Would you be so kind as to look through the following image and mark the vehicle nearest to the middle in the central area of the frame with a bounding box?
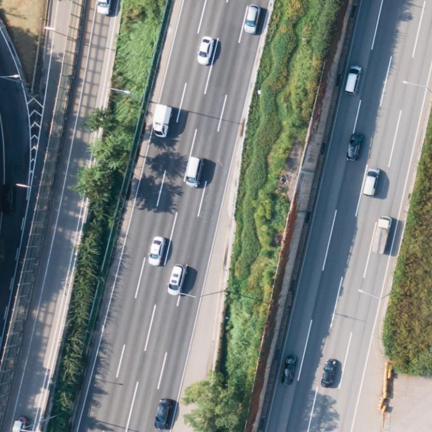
[183,158,201,187]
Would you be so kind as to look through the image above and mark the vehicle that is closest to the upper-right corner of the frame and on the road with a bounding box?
[345,66,360,93]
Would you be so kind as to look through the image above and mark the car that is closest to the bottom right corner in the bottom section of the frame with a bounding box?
[321,359,337,387]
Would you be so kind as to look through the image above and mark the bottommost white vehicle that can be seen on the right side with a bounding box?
[374,217,391,253]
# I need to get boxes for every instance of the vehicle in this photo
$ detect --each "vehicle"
[183,158,201,187]
[363,170,380,197]
[374,217,391,253]
[347,134,362,161]
[169,265,186,293]
[198,36,214,64]
[12,418,27,432]
[321,359,337,387]
[243,3,260,31]
[148,238,165,265]
[149,102,170,137]
[155,399,171,427]
[95,0,111,15]
[345,66,360,93]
